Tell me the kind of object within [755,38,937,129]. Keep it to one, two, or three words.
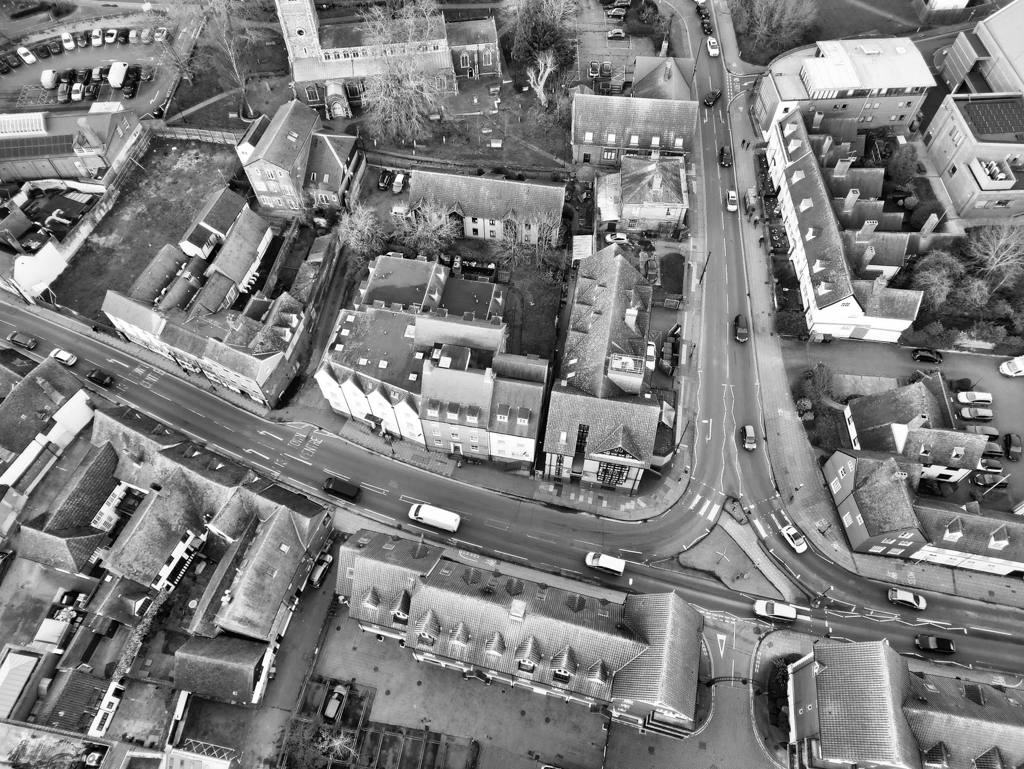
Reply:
building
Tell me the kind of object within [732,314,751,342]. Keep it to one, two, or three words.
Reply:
car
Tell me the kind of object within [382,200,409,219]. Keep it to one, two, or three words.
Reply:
vehicle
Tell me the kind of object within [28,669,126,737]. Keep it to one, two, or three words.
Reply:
house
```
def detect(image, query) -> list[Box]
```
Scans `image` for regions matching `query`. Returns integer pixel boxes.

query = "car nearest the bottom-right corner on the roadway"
[913,631,960,655]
